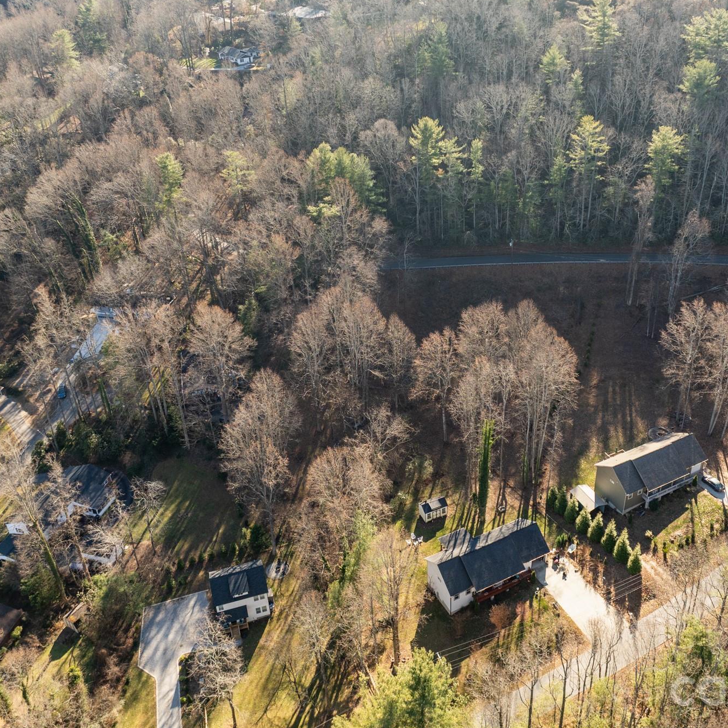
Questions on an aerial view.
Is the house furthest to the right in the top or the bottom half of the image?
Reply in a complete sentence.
The house furthest to the right sits in the bottom half of the picture.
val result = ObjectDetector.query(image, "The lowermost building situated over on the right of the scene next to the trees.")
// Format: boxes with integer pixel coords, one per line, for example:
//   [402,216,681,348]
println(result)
[425,517,555,616]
